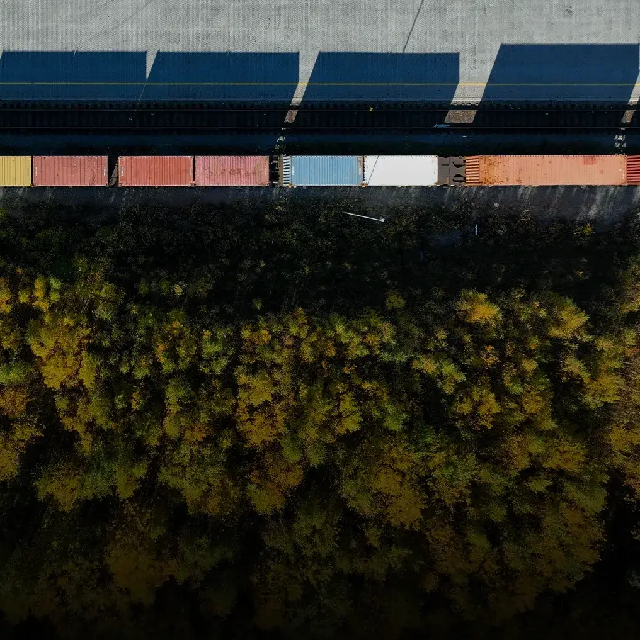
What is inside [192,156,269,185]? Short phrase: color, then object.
pink shipping container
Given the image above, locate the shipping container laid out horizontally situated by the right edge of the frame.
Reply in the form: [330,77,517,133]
[465,155,626,185]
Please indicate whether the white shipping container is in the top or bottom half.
top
